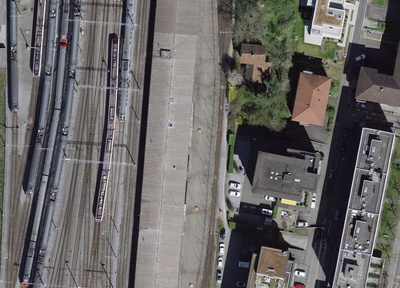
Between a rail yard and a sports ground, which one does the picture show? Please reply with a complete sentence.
It's a rail yard.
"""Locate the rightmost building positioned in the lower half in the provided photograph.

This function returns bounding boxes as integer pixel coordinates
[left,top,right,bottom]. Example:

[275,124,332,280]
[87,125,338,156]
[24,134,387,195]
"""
[332,128,394,288]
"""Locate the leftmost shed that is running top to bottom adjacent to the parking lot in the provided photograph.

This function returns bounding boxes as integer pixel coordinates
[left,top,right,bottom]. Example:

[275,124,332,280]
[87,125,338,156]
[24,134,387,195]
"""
[134,0,198,288]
